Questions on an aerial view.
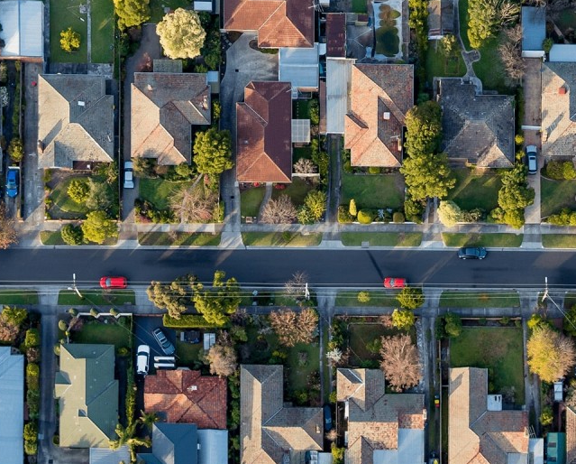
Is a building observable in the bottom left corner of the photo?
Yes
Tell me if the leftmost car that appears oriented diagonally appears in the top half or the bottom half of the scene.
bottom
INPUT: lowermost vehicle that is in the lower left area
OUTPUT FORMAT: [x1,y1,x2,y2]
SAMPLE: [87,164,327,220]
[136,345,150,375]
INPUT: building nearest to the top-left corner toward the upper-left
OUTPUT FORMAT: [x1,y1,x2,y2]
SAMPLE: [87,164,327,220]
[0,0,46,60]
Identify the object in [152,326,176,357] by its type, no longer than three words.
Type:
car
